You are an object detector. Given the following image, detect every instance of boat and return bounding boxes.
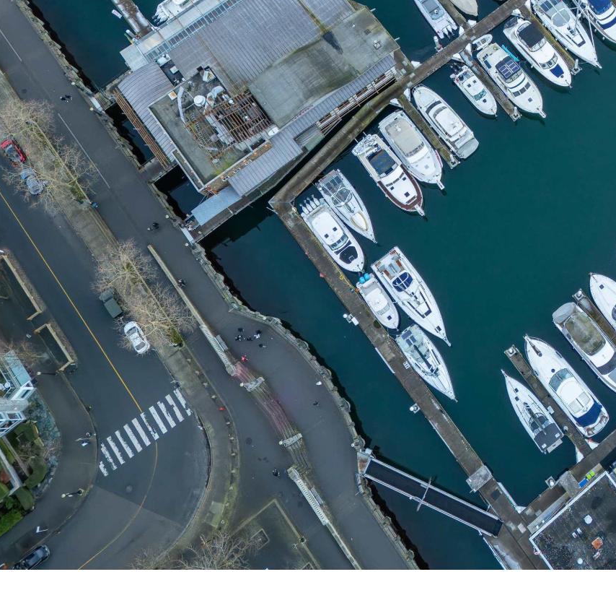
[549,302,616,391]
[373,249,451,345]
[520,336,607,439]
[475,36,492,51]
[448,63,501,118]
[397,327,458,405]
[413,0,451,38]
[529,0,601,71]
[355,138,426,219]
[412,86,481,161]
[316,168,377,241]
[355,274,401,334]
[498,14,575,88]
[377,112,455,190]
[472,41,548,122]
[301,200,364,276]
[155,0,200,23]
[566,0,616,46]
[586,273,616,331]
[502,367,565,456]
[548,302,570,320]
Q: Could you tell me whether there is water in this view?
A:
Yes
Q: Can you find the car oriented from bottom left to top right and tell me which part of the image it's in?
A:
bottom left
